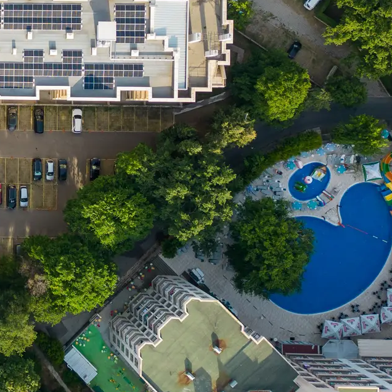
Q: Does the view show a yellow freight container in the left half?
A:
No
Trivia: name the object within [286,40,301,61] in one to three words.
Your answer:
car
